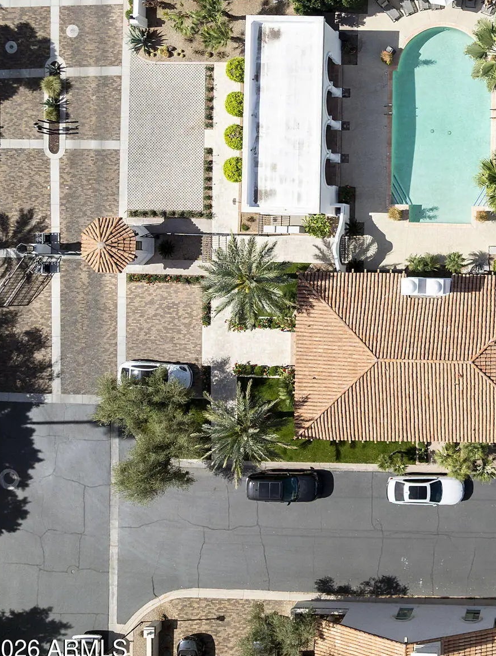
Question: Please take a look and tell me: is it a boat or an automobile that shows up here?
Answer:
automobile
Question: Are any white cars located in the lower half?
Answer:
Yes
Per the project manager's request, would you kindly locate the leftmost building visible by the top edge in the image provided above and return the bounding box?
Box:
[242,16,351,215]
